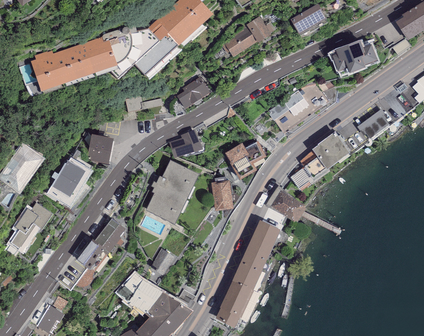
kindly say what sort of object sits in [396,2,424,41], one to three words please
house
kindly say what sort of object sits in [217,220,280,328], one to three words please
building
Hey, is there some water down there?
Yes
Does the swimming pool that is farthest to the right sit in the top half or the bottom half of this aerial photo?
bottom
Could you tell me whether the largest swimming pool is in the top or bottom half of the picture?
top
